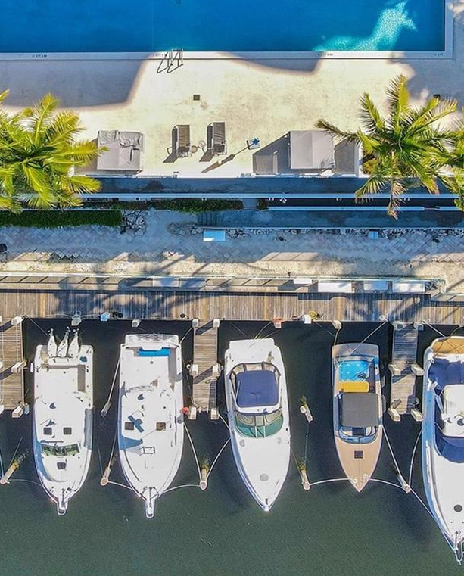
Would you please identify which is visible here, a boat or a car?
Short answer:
boat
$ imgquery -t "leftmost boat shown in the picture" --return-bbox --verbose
[30,330,95,516]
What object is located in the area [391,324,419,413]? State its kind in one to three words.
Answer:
pier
